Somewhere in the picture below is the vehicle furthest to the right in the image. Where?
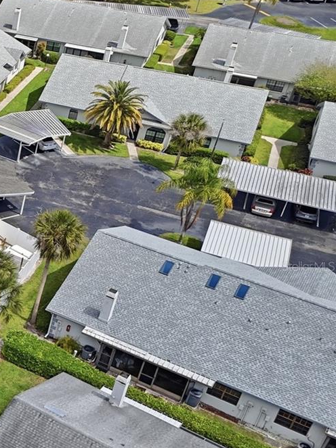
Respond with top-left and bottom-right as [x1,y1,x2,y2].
[292,205,318,222]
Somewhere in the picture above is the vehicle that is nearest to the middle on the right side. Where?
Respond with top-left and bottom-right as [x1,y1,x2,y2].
[253,195,279,217]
